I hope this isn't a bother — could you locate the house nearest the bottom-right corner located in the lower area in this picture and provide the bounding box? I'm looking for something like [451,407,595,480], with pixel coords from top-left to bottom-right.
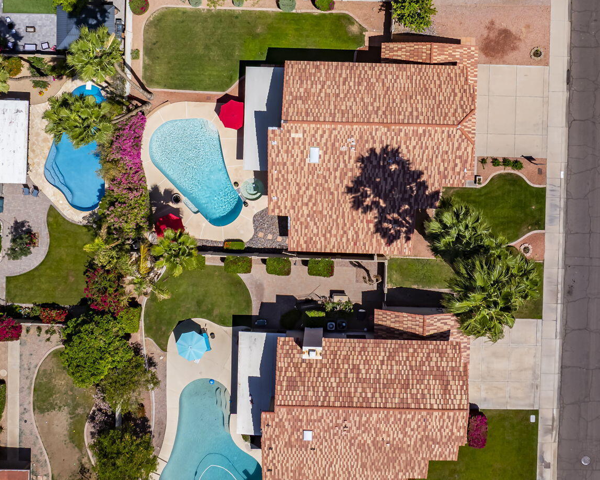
[236,309,474,480]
